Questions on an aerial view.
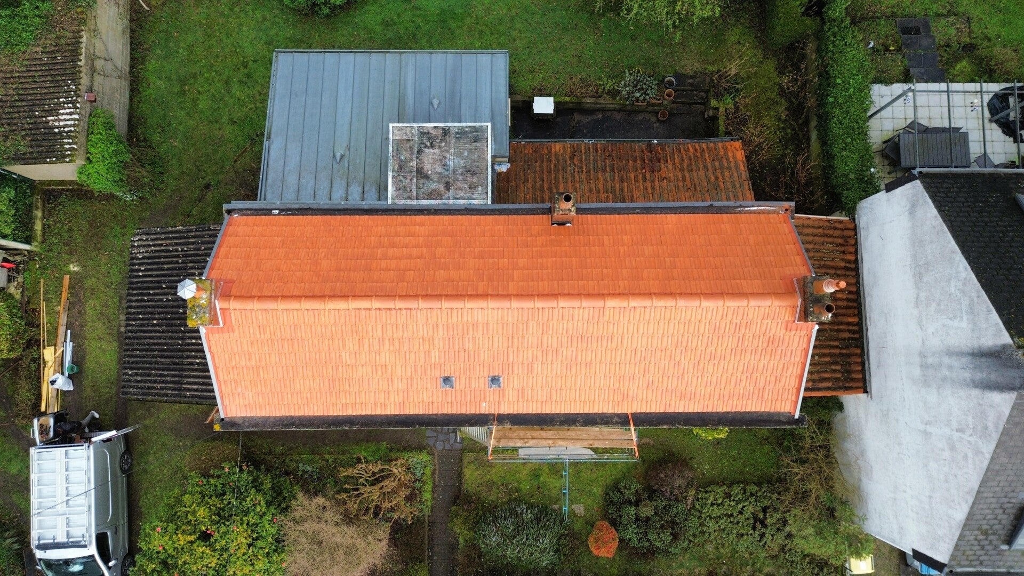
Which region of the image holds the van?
bottom left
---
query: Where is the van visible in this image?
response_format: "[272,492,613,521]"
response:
[29,414,140,576]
